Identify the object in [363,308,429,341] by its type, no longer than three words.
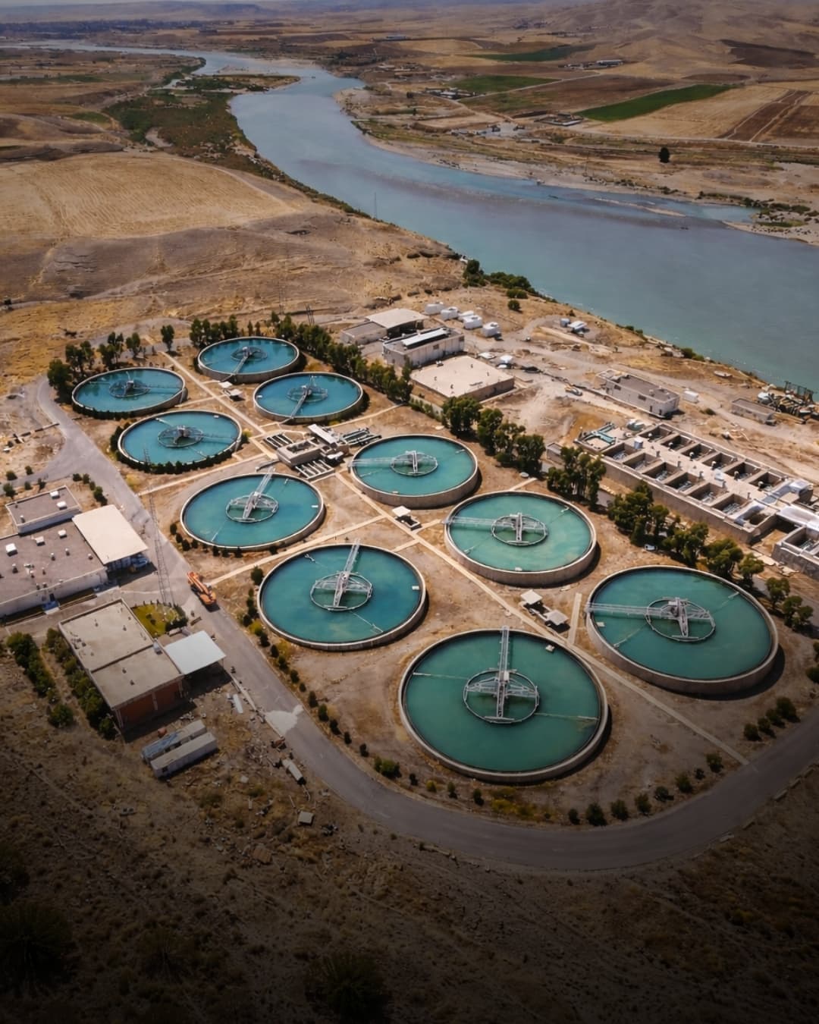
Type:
shed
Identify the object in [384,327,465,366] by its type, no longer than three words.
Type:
building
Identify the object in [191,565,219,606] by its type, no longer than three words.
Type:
work vehicle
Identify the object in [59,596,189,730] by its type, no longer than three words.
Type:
building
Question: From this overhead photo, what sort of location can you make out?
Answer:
industrial area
